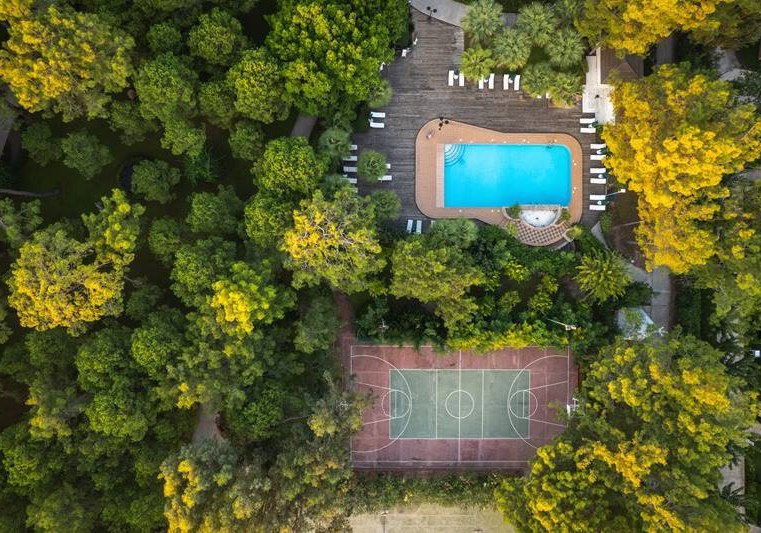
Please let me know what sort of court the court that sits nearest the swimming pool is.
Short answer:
basketball court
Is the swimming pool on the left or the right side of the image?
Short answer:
right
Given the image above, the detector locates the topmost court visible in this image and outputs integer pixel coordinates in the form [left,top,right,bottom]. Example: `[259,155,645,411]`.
[334,343,578,474]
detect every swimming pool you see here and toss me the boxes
[415,117,583,228]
